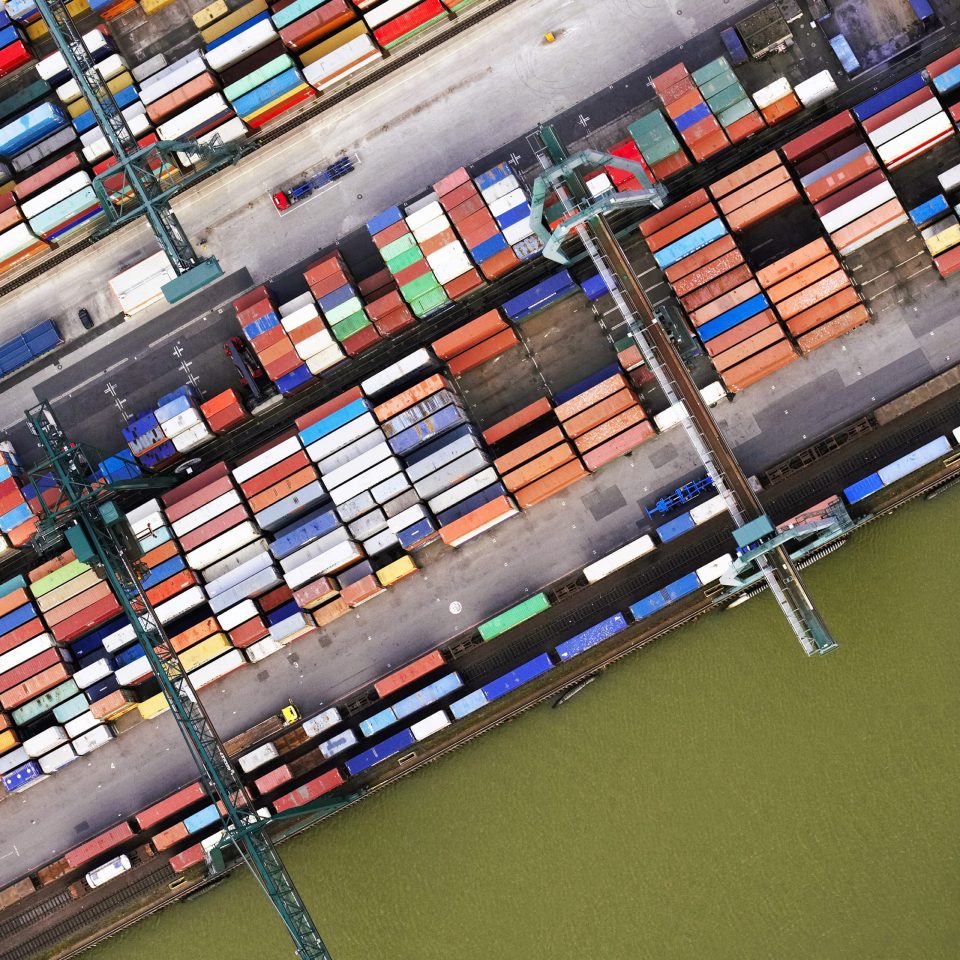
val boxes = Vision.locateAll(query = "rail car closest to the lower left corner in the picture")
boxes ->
[0,878,38,913]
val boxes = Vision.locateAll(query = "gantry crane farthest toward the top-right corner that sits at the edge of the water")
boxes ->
[520,128,870,661]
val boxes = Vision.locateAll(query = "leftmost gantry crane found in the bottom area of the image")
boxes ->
[21,396,365,960]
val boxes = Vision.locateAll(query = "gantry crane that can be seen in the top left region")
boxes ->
[38,0,248,306]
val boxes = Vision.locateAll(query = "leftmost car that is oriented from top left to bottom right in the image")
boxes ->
[77,306,98,331]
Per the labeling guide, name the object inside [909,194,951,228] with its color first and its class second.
blue shipping container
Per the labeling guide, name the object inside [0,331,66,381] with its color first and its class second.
blue trailer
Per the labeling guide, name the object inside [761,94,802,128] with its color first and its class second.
red shipping container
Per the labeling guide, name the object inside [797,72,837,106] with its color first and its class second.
white shipping container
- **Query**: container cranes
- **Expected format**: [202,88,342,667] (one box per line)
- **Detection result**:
[38,0,248,306]
[21,396,365,960]
[520,128,870,661]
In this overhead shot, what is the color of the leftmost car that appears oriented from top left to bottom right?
black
